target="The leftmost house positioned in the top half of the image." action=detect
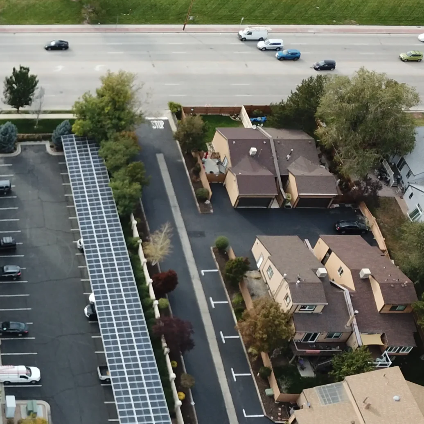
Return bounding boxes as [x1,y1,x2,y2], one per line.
[212,125,338,210]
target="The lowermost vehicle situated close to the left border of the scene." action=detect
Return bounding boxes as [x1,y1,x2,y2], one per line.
[0,366,40,385]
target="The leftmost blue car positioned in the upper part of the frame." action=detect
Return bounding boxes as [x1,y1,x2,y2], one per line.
[274,49,302,61]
